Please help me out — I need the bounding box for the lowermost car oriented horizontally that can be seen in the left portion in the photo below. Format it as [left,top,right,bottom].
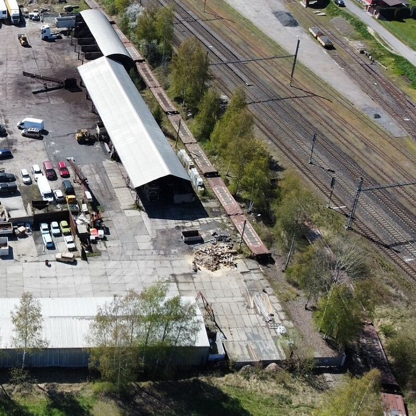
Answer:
[51,250,79,263]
